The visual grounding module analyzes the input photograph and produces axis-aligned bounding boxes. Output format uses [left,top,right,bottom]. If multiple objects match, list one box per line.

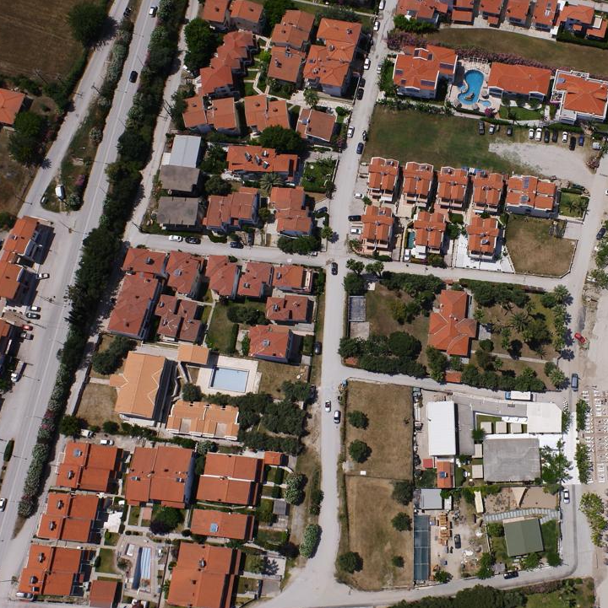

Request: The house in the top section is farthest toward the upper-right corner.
[557,5,608,42]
